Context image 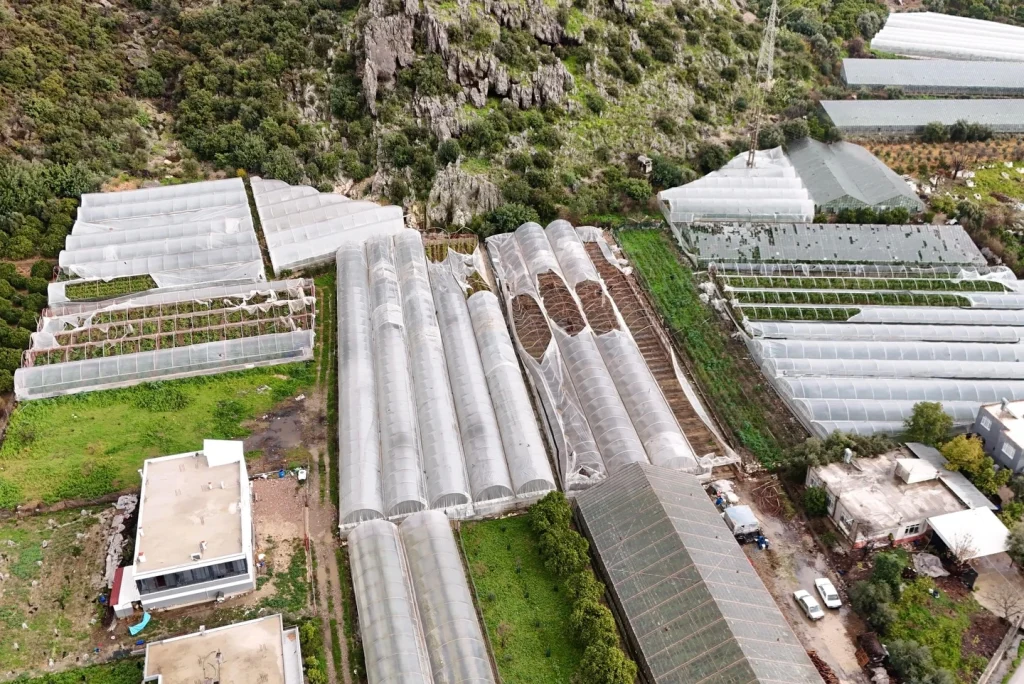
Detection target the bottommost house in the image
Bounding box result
[143,614,308,684]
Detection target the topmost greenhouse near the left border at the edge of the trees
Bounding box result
[49,179,267,316]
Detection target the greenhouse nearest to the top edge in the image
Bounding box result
[871,10,1024,60]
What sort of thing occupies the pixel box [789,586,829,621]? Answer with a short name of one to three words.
car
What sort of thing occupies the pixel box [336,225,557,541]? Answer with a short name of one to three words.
greenhouse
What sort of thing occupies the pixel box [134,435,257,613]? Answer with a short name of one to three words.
house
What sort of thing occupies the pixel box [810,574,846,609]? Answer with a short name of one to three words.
car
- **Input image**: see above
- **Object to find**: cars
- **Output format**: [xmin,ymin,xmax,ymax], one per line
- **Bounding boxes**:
[789,586,829,621]
[810,574,846,609]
